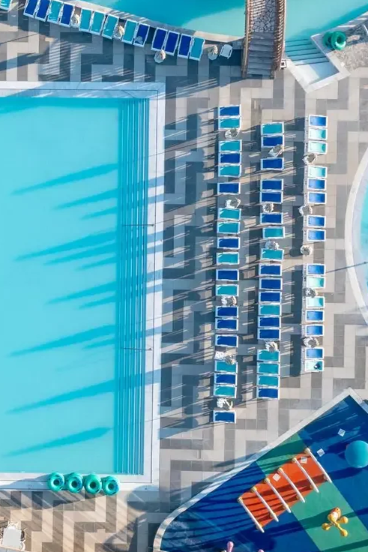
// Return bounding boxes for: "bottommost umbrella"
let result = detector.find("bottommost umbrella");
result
[218,398,234,414]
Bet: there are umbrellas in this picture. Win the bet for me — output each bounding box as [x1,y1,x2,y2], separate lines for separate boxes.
[218,398,234,414]
[304,286,322,300]
[222,295,238,308]
[225,195,243,209]
[225,125,241,139]
[261,199,279,214]
[265,238,282,252]
[154,46,170,63]
[69,8,83,27]
[264,340,281,354]
[299,202,319,216]
[268,142,287,157]
[304,336,321,349]
[223,352,238,367]
[301,149,321,164]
